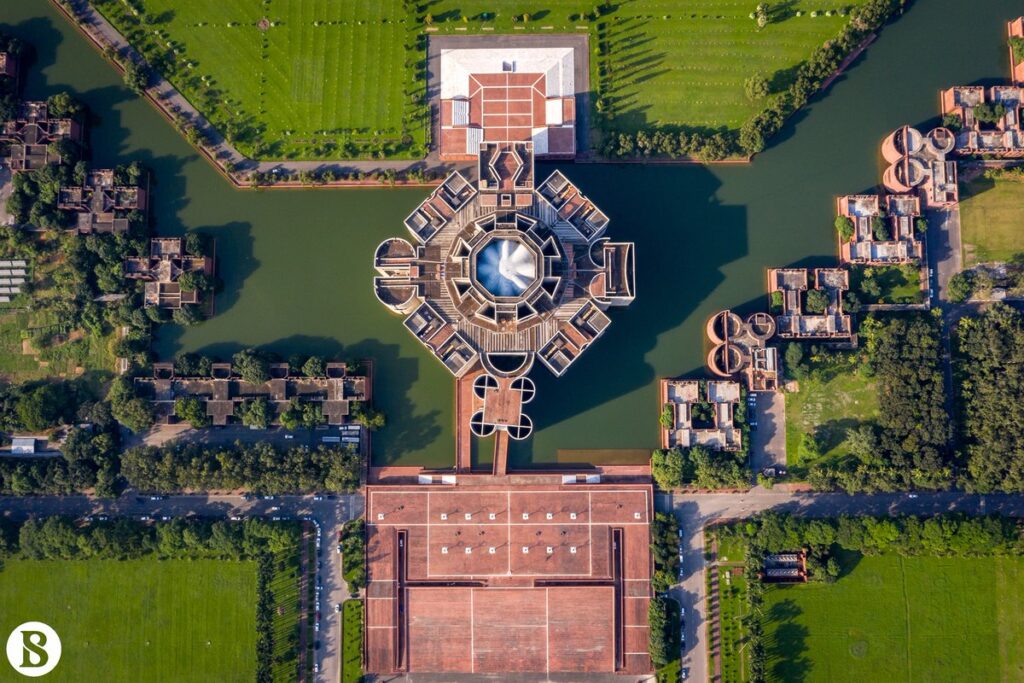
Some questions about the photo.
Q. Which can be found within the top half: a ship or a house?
house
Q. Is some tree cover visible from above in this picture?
Yes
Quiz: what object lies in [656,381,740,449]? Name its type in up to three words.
house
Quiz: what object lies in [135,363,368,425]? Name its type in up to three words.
building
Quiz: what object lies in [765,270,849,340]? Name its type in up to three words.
house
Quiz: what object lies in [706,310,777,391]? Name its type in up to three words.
building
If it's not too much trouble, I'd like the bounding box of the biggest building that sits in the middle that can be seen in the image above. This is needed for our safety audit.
[375,136,634,441]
